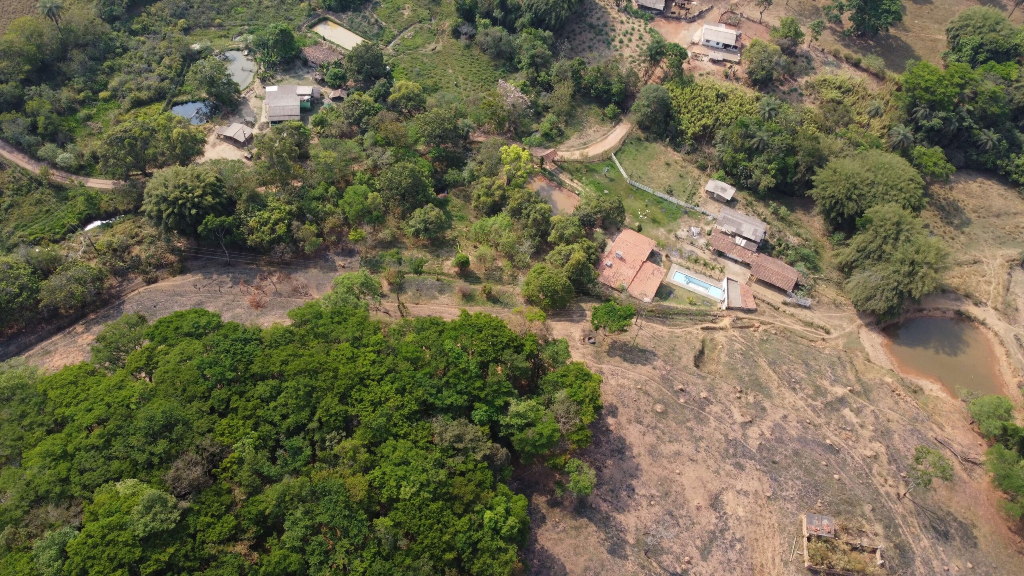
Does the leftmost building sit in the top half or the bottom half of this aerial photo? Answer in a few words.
top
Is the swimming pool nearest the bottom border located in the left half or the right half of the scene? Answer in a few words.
right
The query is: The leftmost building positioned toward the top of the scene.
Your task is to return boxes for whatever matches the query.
[216,123,254,149]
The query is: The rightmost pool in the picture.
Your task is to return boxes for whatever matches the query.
[665,263,724,303]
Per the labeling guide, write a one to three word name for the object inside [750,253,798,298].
barn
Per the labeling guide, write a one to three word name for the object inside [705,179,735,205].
shed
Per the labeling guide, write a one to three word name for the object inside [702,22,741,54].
house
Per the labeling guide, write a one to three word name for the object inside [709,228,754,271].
building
